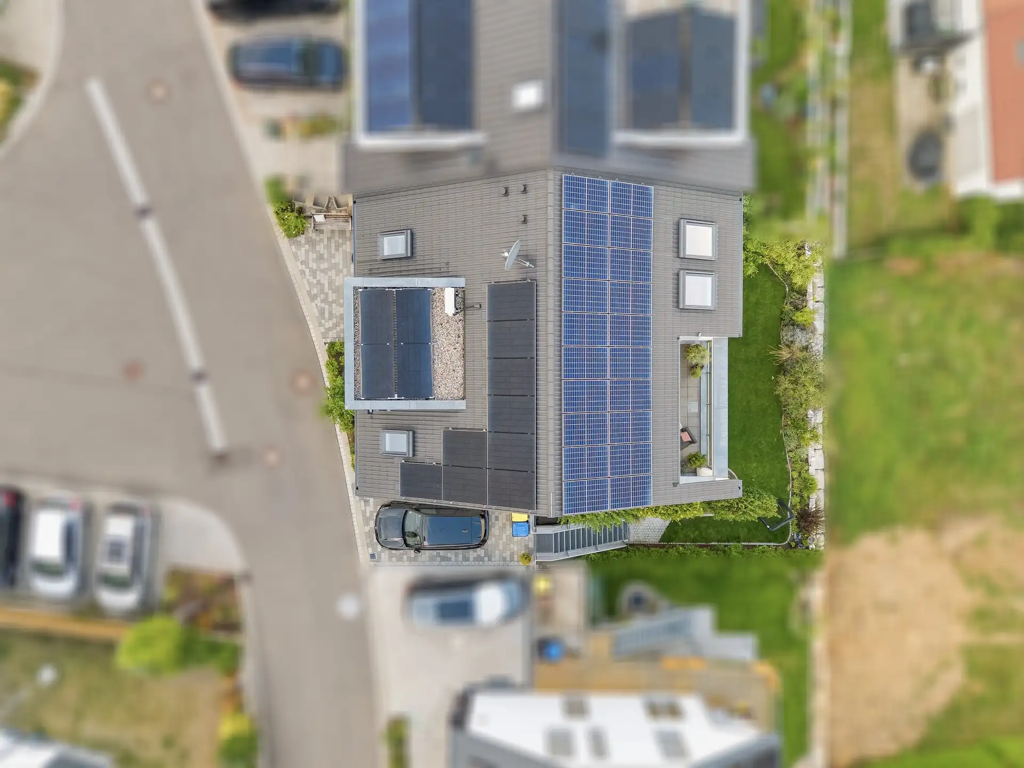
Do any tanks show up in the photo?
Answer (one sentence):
No, I can't see a single tank in this photo.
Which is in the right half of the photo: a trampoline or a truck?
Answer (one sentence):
It is a trampoline that can be seen in the right half of the photo.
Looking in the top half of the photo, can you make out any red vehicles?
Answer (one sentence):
No, the scene shows no red vehicle in the top half of the photo.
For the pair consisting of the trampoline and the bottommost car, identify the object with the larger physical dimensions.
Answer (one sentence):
The trampoline is smaller than the car.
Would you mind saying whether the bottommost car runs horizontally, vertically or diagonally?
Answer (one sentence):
What the image shows is the bottommost car lying horizontally.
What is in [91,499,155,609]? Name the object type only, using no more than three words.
car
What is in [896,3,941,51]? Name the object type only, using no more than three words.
umbrella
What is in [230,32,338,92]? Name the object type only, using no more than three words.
car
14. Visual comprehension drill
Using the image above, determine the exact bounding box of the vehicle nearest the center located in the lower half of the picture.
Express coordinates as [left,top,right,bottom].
[377,503,489,555]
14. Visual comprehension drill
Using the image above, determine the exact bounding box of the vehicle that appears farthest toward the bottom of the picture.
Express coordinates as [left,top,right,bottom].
[406,573,524,632]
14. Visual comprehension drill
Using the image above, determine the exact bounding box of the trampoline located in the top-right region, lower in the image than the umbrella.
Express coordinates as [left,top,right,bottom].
[900,131,944,181]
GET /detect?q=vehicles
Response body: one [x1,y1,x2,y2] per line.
[91,499,155,609]
[230,32,338,92]
[377,503,489,555]
[406,573,524,632]
[0,479,32,591]
[23,489,91,600]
